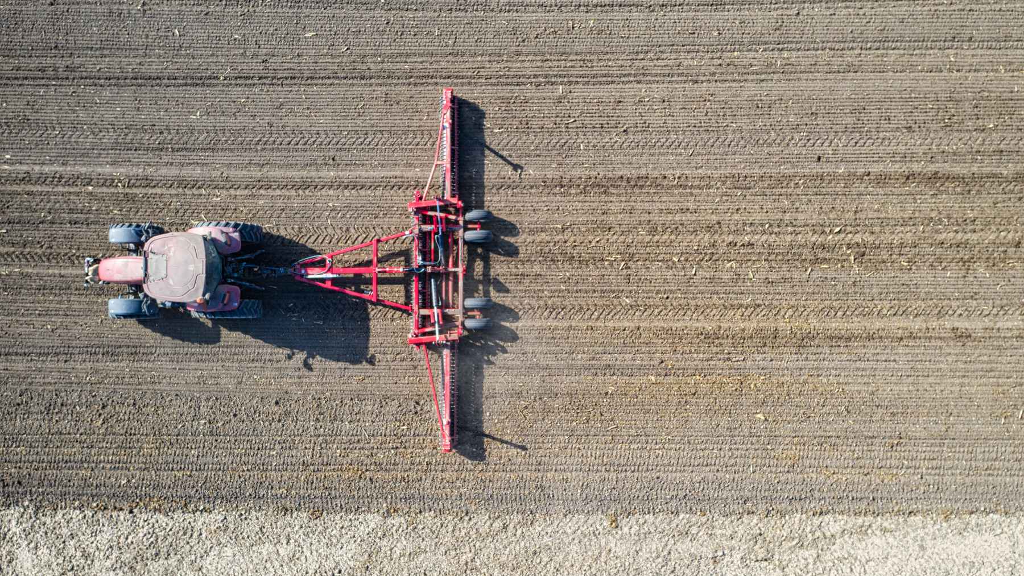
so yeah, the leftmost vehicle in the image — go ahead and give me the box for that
[84,218,284,320]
